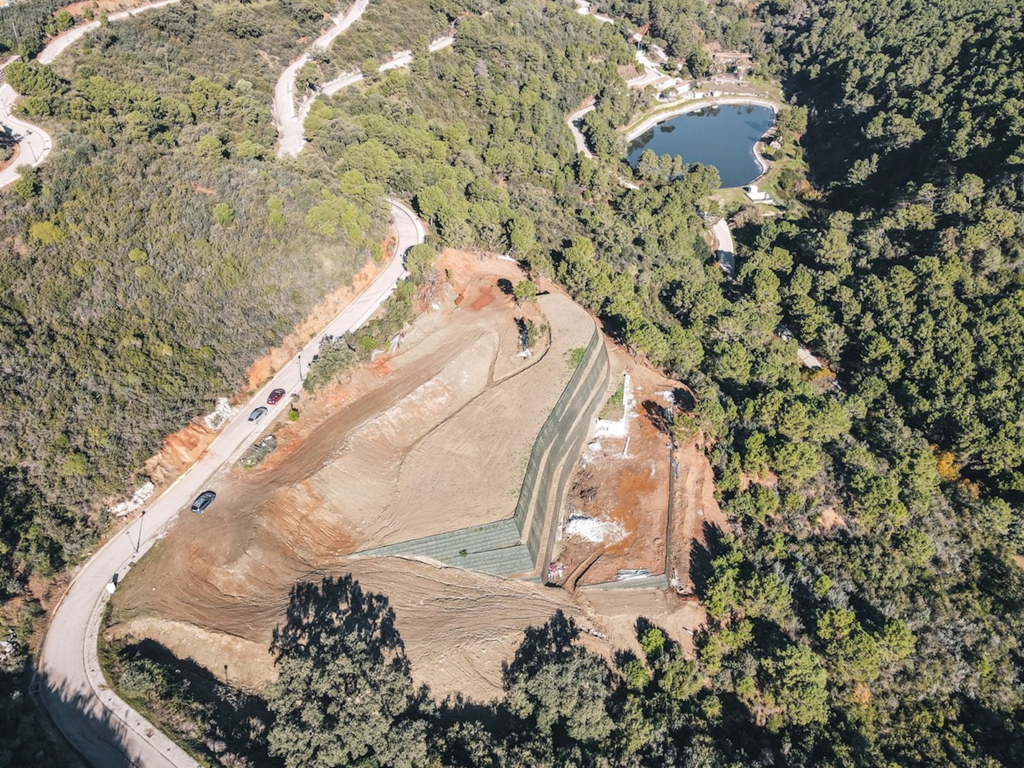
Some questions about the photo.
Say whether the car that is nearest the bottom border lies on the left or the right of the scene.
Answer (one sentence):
You can find the car that is nearest the bottom border on the left side of the picture.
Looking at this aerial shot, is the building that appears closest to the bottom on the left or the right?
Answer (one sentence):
The building that appears closest to the bottom sits on the right side.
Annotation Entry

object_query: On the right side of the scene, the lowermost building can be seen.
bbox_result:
[742,177,775,202]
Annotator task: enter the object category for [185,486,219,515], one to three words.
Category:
car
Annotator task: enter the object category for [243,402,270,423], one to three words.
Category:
car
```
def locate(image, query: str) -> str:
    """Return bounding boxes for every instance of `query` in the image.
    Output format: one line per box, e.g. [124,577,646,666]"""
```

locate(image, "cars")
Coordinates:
[243,402,270,423]
[185,486,219,515]
[263,384,287,403]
